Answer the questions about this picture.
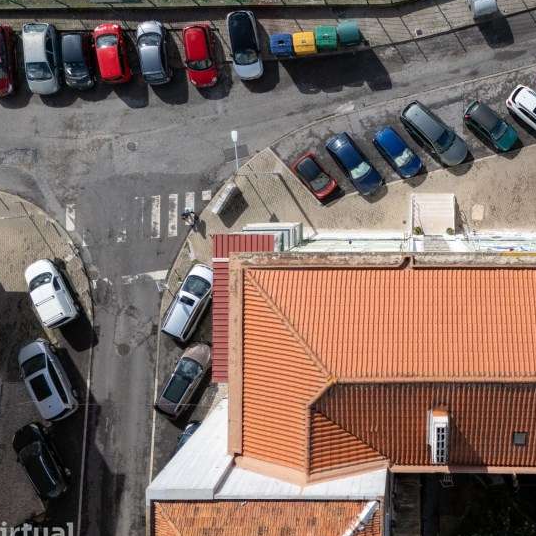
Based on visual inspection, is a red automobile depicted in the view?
Yes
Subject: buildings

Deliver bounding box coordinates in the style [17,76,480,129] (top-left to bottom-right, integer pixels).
[227,230,536,492]
[154,468,391,536]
